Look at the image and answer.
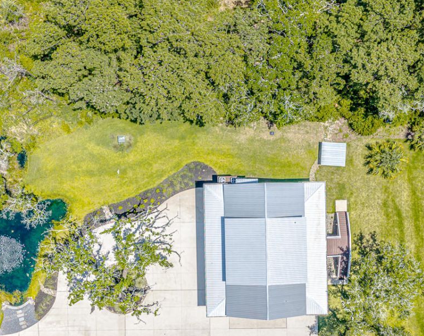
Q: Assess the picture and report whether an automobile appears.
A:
No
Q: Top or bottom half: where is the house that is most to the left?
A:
bottom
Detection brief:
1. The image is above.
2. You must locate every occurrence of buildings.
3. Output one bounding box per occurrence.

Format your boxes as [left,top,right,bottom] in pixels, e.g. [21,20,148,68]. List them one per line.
[321,143,346,166]
[203,179,329,320]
